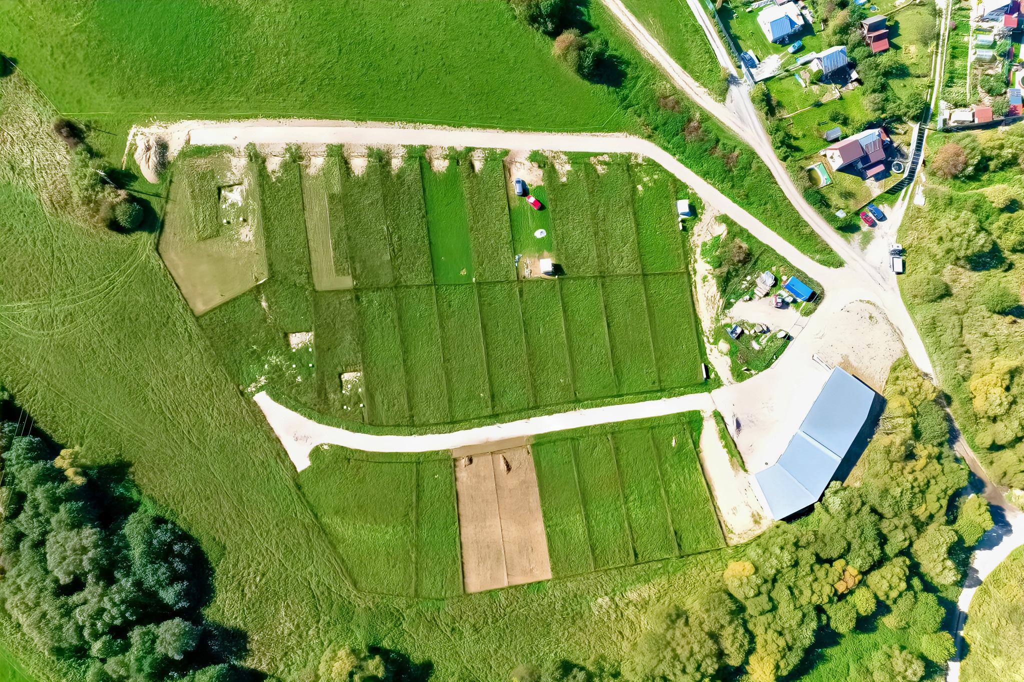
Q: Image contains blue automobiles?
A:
Yes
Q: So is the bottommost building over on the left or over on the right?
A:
right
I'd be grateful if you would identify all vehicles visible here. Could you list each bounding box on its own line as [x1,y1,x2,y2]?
[527,195,542,210]
[786,39,803,55]
[514,178,523,197]
[867,203,884,221]
[741,51,756,69]
[861,211,876,228]
[889,244,903,273]
[772,296,783,309]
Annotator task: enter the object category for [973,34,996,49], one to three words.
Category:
greenhouse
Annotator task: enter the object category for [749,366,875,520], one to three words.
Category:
building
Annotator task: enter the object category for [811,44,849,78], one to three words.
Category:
house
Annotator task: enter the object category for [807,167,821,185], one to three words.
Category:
swimming pool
